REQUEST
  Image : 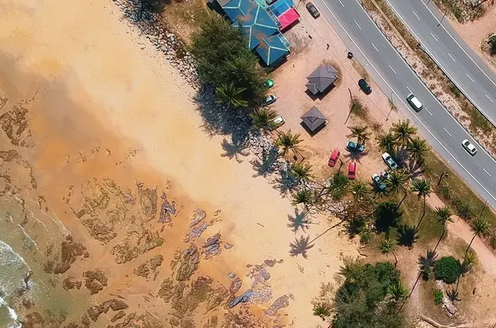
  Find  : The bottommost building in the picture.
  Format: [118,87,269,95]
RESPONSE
[300,105,326,134]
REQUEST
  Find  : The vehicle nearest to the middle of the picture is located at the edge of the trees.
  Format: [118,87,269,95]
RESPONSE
[269,112,288,127]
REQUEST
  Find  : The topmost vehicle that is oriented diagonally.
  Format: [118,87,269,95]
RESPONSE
[305,0,321,19]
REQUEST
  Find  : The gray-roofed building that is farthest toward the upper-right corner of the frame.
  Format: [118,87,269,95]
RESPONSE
[305,63,339,97]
